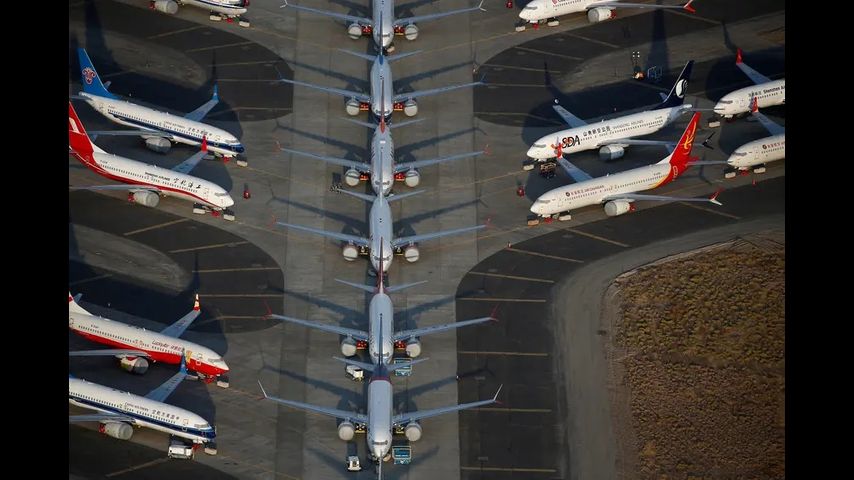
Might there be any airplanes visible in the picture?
Yes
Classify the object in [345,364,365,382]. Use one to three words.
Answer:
vehicle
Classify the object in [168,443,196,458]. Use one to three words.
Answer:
vehicle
